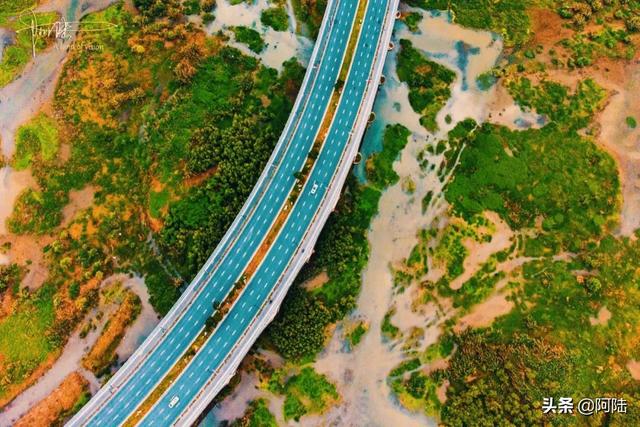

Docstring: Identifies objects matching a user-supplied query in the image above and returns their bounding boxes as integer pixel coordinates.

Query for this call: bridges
[64,0,399,427]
